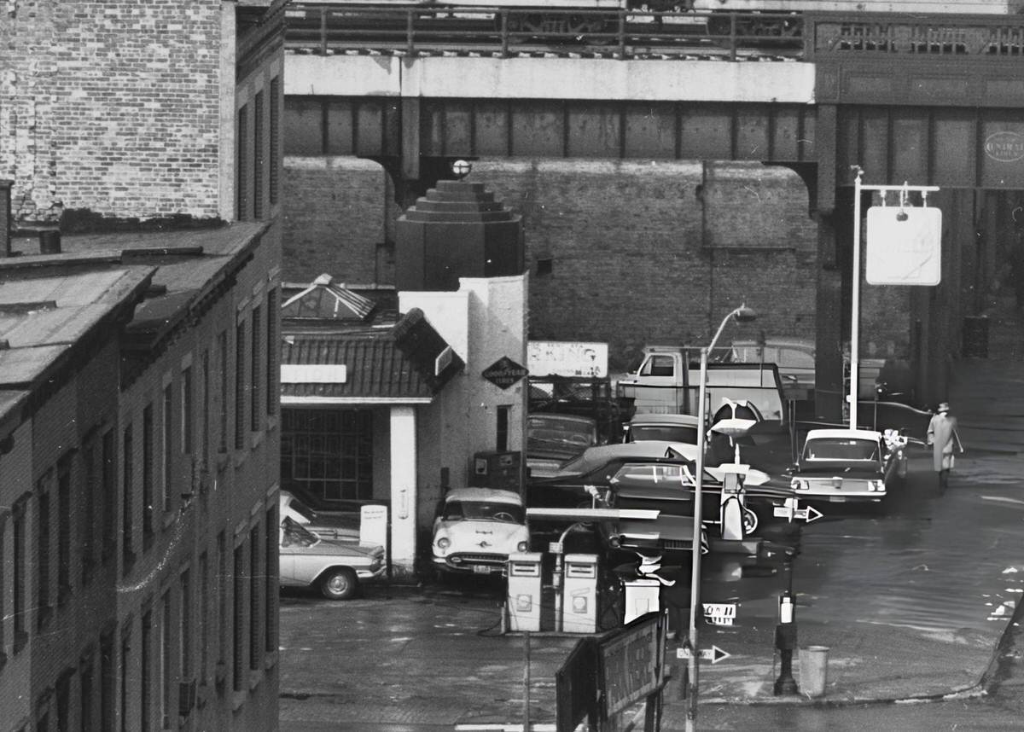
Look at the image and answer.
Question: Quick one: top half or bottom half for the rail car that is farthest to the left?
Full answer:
The rail car that is farthest to the left is in the top half of the image.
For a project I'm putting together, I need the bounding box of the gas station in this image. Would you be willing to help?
[280,159,530,574]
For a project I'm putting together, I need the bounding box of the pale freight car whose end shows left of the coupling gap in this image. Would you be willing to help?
[280,0,646,39]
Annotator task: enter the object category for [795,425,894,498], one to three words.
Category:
car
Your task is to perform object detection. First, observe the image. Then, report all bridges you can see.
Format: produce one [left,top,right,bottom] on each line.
[280,0,1024,419]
